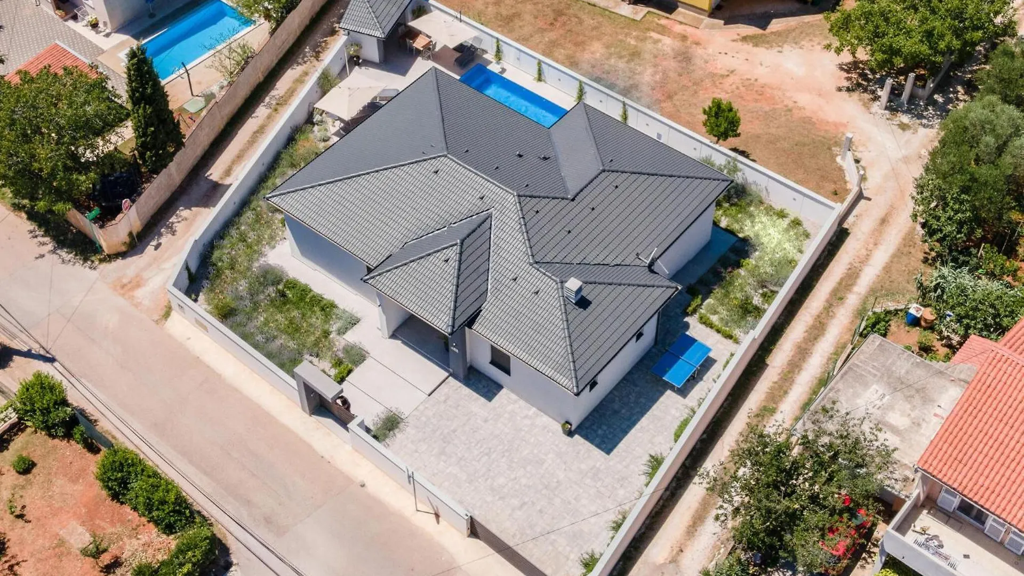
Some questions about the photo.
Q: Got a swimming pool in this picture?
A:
Yes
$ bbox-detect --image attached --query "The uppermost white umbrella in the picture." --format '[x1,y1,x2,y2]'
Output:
[407,2,477,52]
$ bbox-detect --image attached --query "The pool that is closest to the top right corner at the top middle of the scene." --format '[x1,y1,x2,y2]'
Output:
[459,64,568,127]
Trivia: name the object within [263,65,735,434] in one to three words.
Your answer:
house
